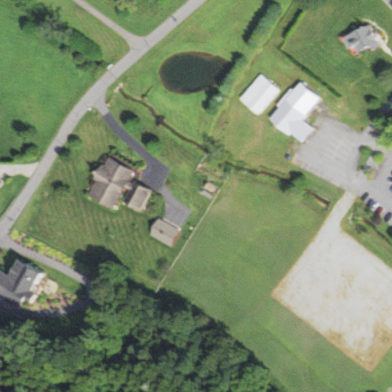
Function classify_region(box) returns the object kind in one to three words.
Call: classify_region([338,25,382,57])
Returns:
house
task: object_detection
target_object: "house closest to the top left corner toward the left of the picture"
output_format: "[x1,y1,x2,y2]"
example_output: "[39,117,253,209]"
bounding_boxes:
[89,160,136,211]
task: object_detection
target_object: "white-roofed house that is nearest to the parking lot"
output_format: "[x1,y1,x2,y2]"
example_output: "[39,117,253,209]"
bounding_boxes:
[270,82,322,144]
